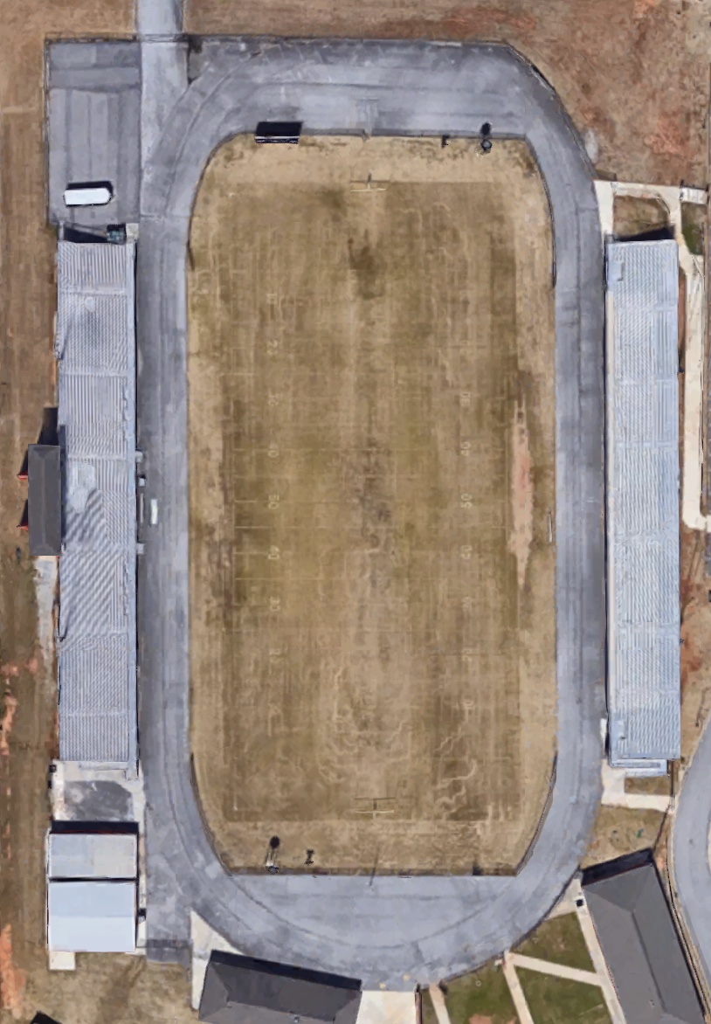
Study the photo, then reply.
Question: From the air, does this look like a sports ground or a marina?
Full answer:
The picture captures a sports ground.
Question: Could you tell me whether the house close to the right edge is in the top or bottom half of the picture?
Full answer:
The bottom half of the photo is where the house close to the right edge is.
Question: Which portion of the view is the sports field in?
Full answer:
You can find the sports field in the center area of the picture.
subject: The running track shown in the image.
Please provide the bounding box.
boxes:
[138,41,605,991]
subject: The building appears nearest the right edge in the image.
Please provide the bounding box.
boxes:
[581,862,705,1024]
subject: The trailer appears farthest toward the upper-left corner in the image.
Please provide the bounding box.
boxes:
[64,188,120,209]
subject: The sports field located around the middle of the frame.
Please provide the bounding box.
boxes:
[188,134,556,875]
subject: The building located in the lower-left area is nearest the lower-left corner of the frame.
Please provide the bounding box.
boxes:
[47,879,137,951]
